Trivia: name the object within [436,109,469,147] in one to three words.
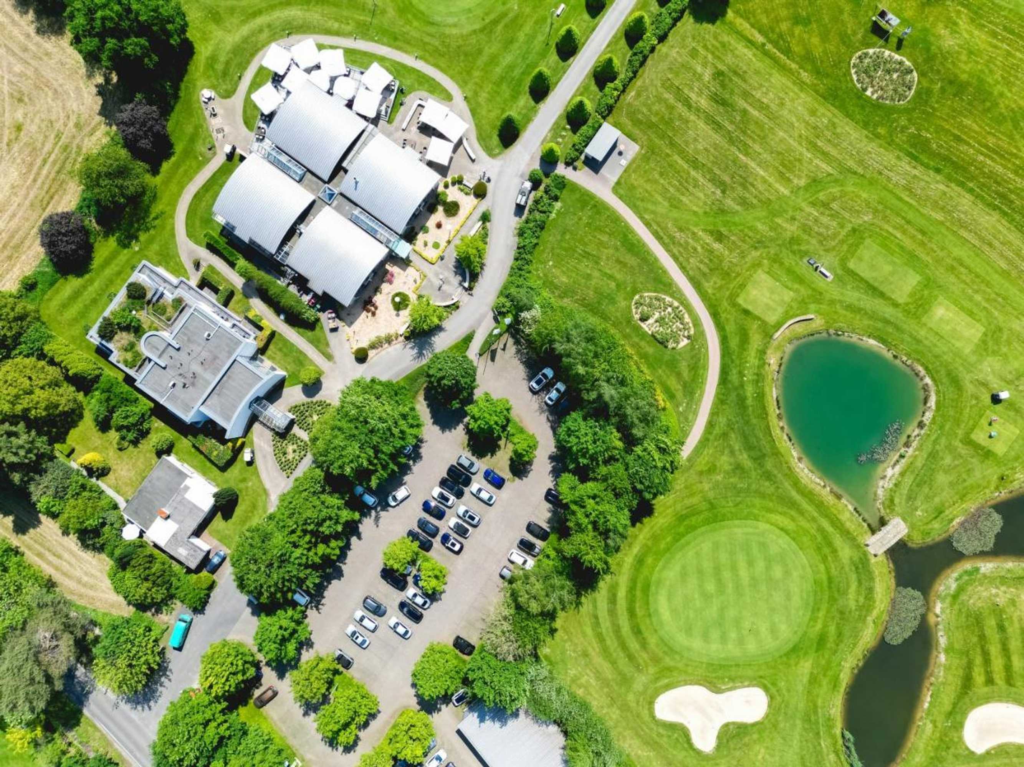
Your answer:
building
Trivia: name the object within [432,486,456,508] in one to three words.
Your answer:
car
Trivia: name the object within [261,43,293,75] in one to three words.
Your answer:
umbrella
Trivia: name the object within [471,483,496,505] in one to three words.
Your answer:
car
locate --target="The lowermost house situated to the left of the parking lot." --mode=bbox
[122,456,220,570]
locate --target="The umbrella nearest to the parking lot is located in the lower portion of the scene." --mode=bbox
[123,524,140,539]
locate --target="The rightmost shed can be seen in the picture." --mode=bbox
[585,123,621,165]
